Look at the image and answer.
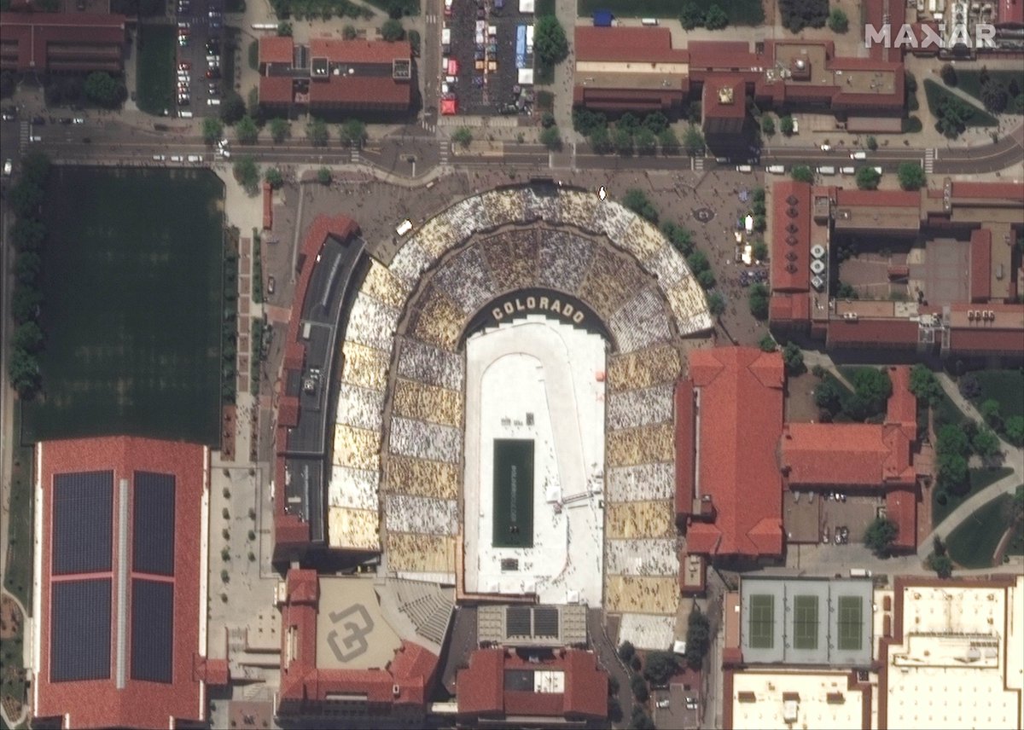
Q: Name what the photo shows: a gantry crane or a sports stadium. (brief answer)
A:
sports stadium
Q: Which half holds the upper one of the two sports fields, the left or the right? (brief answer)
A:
left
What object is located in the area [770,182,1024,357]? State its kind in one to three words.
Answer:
building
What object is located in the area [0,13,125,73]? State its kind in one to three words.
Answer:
building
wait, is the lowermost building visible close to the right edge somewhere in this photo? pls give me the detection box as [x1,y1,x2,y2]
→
[722,575,1024,730]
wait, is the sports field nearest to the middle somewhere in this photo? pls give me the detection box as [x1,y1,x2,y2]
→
[457,290,617,609]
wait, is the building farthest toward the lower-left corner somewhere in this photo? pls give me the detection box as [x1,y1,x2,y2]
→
[23,437,228,730]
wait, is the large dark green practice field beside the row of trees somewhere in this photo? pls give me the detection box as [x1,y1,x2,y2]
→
[21,167,224,447]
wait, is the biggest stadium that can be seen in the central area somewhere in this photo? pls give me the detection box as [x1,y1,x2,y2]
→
[319,181,715,653]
